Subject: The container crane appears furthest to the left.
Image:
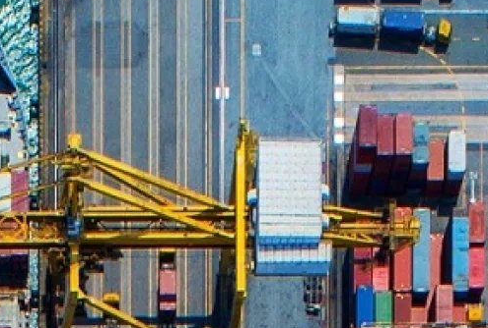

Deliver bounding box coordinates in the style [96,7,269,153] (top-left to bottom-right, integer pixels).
[0,117,422,328]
